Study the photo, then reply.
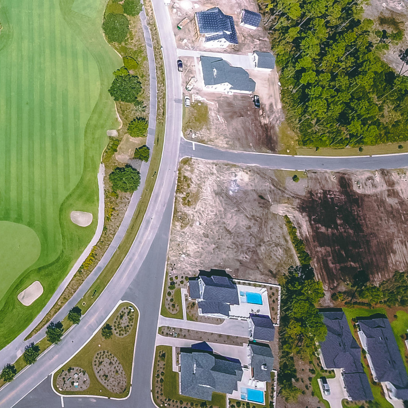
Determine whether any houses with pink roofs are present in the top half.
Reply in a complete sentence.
No, no house with a pink roof is visible in the top half.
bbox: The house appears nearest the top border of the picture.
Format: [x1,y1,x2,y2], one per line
[195,10,262,47]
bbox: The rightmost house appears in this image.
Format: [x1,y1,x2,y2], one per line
[356,319,408,407]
